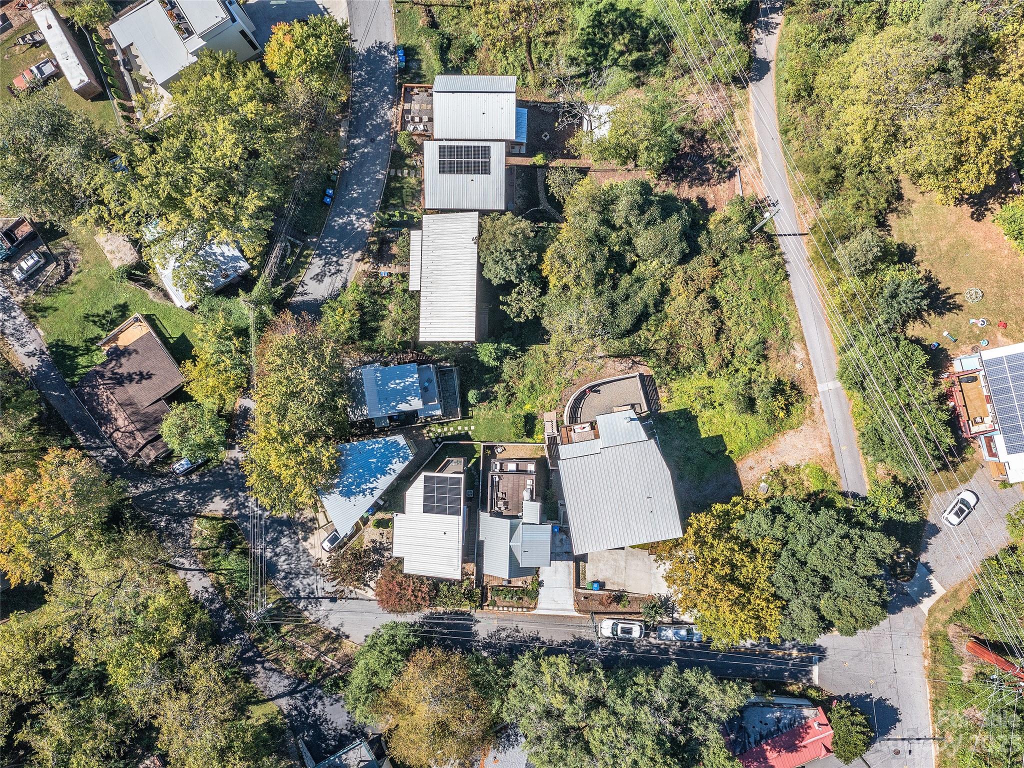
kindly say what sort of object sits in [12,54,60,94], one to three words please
truck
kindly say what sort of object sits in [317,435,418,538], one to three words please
house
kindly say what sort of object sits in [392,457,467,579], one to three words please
house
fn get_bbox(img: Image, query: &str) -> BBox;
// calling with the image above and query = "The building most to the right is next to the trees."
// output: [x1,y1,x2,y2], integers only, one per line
[918,341,1024,483]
